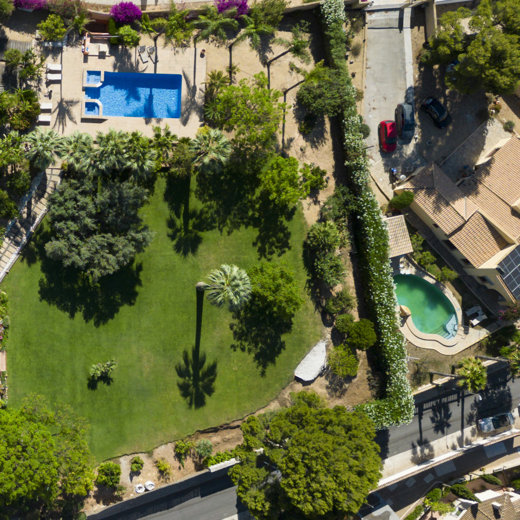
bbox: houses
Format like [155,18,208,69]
[427,491,520,520]
[393,134,520,302]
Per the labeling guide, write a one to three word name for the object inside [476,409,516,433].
car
